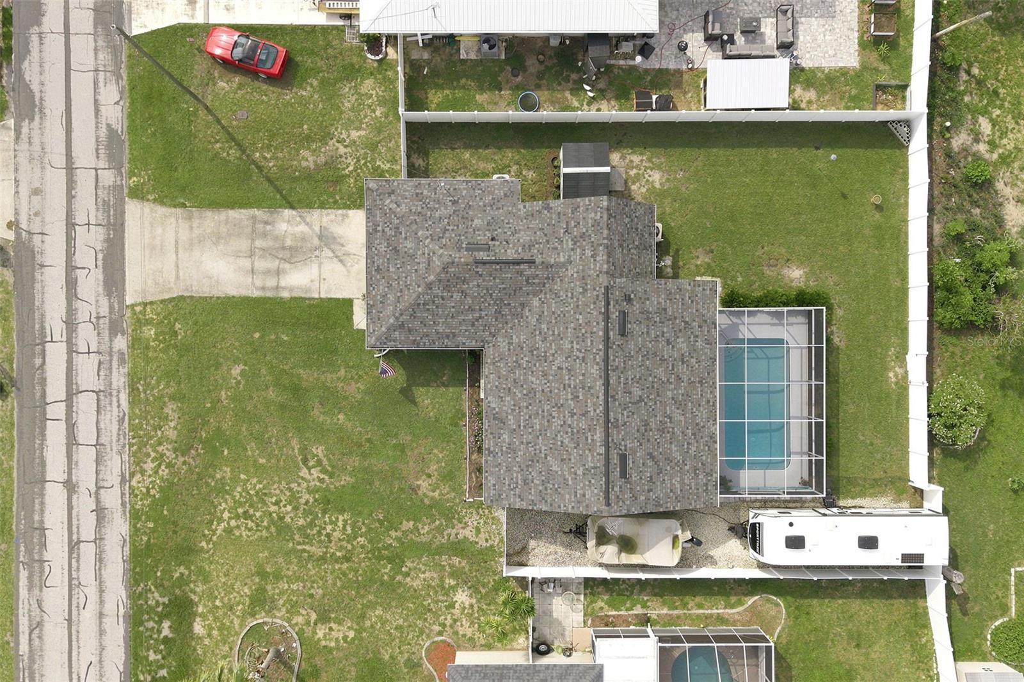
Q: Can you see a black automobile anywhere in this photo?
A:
No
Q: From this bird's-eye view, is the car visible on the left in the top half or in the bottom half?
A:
top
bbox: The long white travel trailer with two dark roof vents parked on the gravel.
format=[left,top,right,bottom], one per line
[727,503,945,565]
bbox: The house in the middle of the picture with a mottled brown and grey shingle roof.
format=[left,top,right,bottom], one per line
[363,177,721,515]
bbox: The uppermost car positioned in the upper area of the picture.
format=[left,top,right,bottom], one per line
[206,27,288,78]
